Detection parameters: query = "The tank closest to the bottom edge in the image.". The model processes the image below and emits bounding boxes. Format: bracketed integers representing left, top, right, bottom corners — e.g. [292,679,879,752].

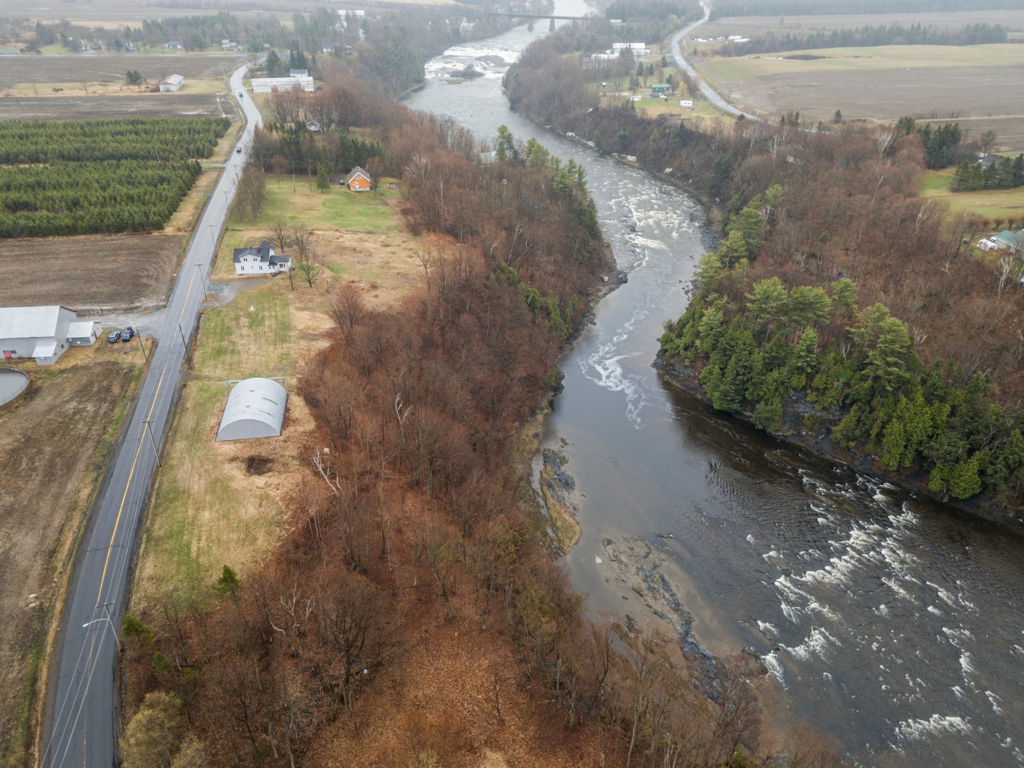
[0,365,29,419]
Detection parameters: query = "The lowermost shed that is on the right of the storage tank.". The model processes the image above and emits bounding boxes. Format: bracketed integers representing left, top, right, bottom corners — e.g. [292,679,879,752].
[215,376,297,441]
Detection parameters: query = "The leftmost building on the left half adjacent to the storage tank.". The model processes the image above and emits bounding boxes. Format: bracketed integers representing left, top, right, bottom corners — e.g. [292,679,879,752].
[0,305,84,365]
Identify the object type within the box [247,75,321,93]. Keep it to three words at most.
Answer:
barn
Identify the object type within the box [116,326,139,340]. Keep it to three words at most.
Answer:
vehicle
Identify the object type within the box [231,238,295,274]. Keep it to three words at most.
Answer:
house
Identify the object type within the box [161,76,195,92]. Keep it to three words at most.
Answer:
barn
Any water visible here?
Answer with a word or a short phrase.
Yes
